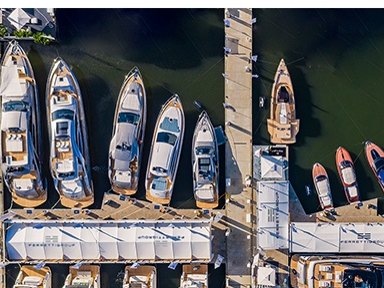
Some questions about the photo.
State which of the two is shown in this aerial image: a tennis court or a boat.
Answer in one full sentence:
Looking from above, you can make out a boat.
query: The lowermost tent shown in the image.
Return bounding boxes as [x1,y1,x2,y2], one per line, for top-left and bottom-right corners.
[258,267,276,286]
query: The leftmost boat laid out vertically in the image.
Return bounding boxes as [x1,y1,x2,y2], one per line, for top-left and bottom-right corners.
[0,39,49,214]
